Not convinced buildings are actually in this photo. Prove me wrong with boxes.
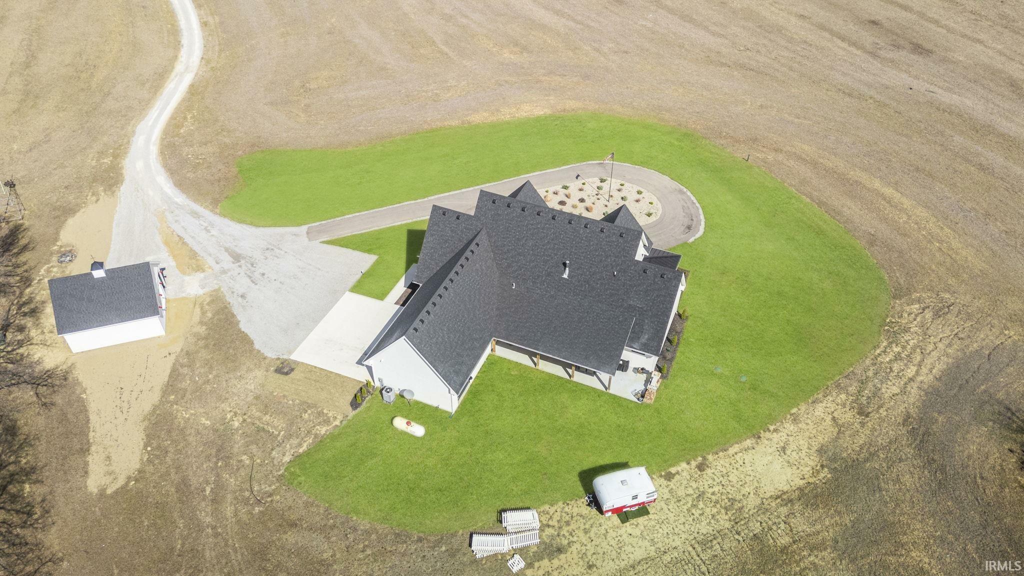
[48,252,167,353]
[364,180,690,416]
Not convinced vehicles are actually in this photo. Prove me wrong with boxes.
[589,467,659,517]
